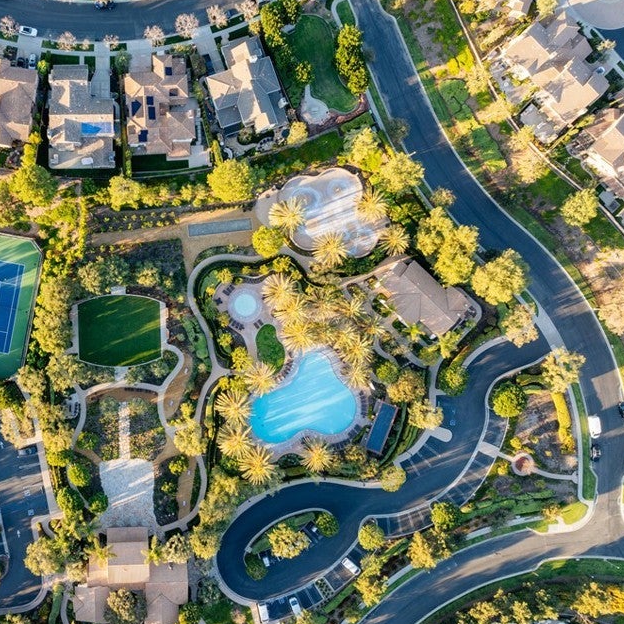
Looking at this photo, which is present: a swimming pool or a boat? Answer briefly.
swimming pool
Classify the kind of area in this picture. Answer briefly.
residential area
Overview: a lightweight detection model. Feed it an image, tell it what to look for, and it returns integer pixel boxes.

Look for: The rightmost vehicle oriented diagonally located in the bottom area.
[344,559,360,576]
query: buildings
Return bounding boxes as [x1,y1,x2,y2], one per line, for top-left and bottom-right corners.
[126,54,195,157]
[474,0,529,18]
[364,401,397,454]
[0,58,39,151]
[573,85,624,196]
[49,62,115,169]
[203,34,291,135]
[372,259,471,336]
[74,523,189,624]
[488,11,615,132]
